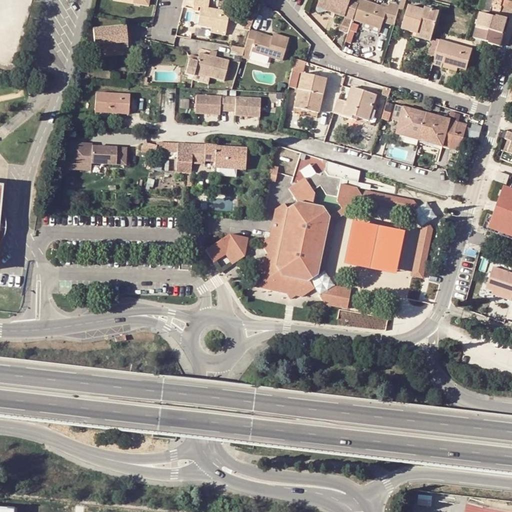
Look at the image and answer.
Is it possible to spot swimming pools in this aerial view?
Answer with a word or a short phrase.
Yes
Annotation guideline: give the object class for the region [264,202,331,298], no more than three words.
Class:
building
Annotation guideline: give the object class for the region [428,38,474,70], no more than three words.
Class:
house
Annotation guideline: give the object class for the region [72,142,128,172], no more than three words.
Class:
house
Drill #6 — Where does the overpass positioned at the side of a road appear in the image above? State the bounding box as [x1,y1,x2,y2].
[0,358,512,476]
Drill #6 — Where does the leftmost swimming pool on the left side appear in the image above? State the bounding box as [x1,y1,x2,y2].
[149,66,181,82]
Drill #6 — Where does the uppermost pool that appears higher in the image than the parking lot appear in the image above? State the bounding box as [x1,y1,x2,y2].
[181,8,194,24]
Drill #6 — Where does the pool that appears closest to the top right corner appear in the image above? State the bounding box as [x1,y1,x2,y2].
[384,144,418,164]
